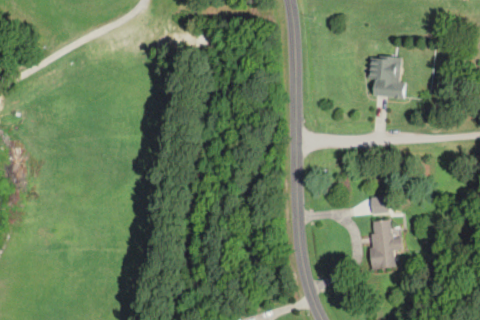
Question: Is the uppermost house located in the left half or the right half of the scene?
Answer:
right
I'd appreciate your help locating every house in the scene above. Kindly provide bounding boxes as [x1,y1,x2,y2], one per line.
[369,56,409,100]
[369,218,404,270]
